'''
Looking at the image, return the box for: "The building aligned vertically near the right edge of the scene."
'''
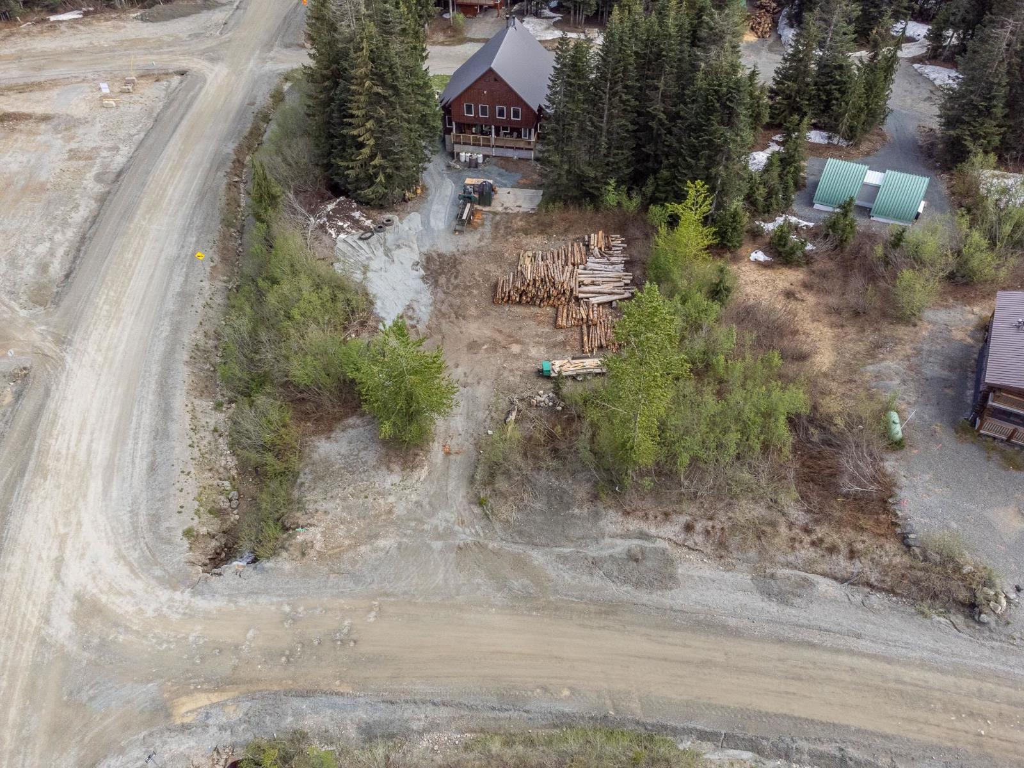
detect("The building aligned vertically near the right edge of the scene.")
[956,288,1024,456]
